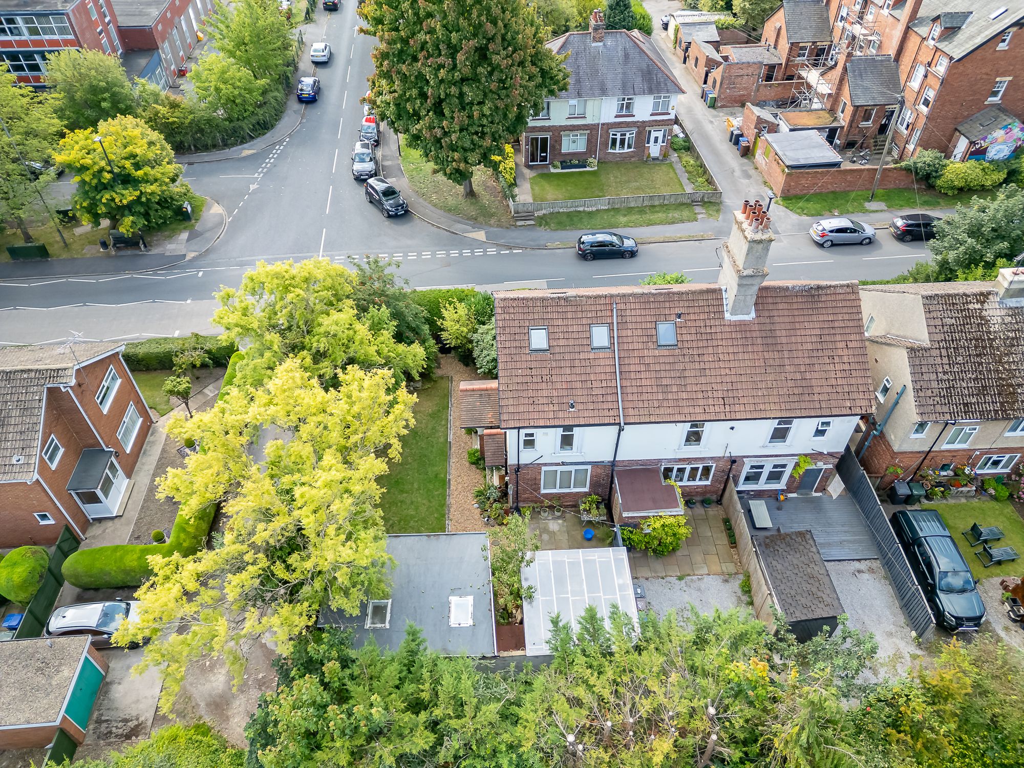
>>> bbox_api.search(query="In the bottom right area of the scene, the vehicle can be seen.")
[886,502,996,630]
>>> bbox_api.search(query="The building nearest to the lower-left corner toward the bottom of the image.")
[0,635,107,749]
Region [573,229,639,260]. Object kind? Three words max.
car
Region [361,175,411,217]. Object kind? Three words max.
car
